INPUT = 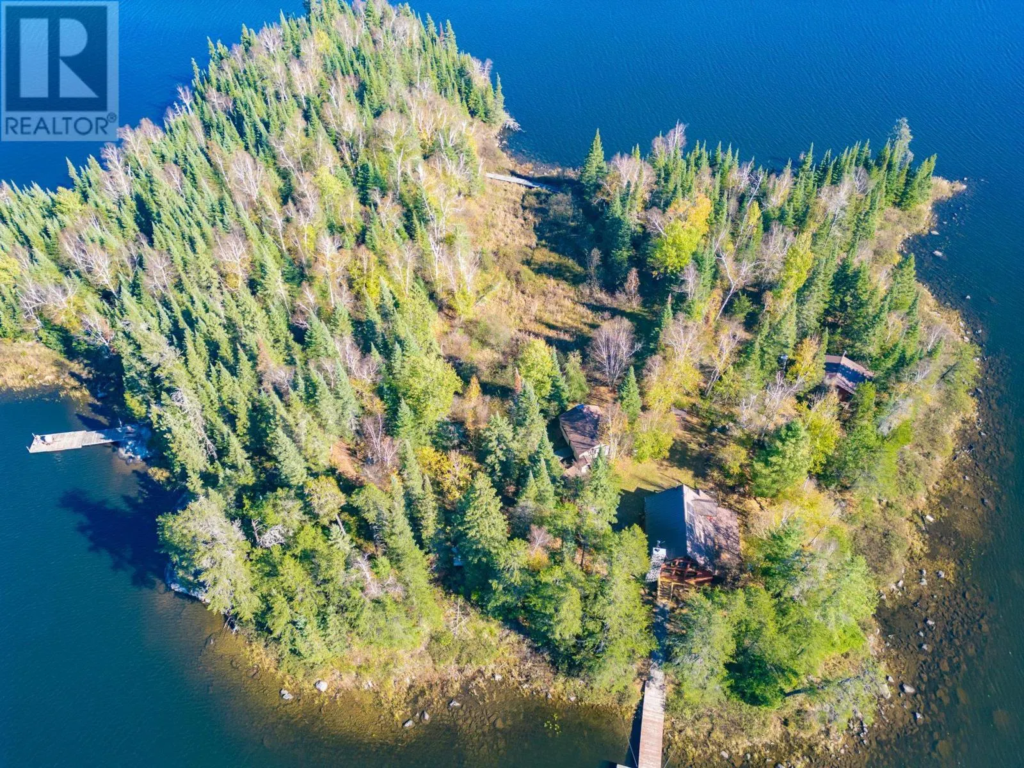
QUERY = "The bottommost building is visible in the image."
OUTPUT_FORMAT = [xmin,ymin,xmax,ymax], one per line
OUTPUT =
[645,482,743,616]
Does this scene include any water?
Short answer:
Yes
